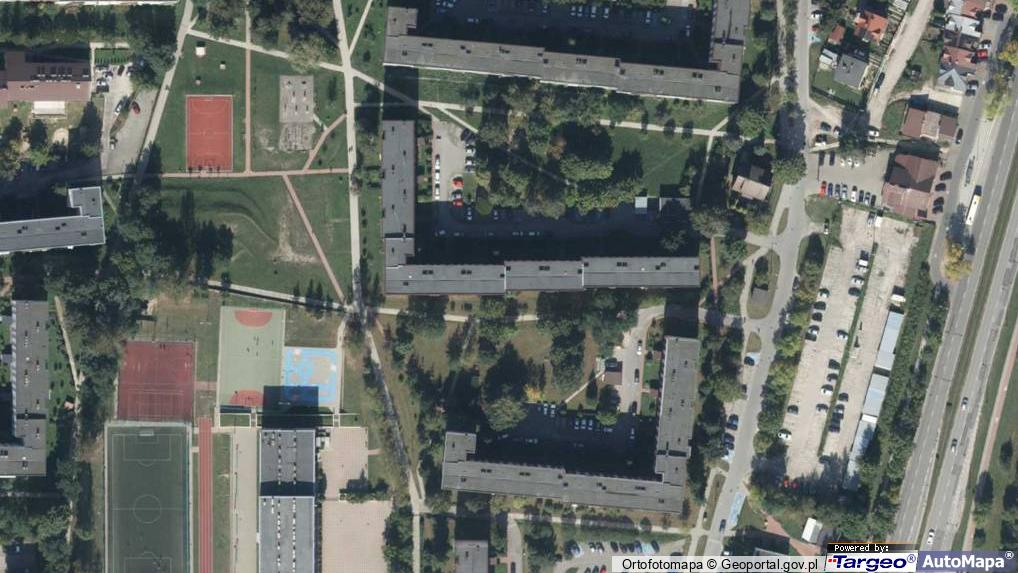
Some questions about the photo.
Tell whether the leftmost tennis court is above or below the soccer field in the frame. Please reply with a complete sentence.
The leftmost tennis court is above the soccer field.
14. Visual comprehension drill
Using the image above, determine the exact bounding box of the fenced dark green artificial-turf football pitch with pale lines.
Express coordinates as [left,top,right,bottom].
[104,420,192,573]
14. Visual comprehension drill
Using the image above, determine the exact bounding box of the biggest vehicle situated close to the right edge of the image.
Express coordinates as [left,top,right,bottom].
[967,194,981,225]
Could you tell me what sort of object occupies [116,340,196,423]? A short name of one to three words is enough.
tennis court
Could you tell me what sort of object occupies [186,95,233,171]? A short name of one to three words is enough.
sports court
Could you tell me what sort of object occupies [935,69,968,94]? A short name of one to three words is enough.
house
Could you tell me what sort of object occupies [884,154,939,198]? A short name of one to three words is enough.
building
